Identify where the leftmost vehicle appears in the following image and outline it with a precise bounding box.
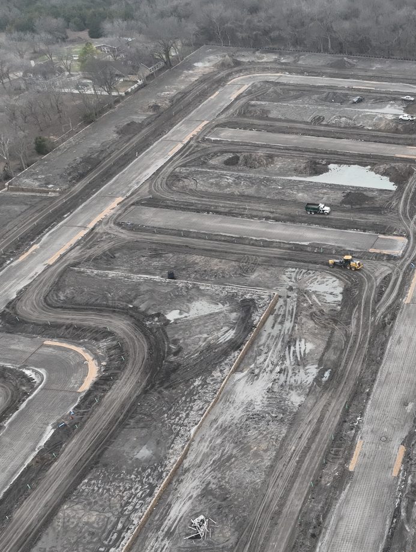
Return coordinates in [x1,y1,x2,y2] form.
[303,204,334,216]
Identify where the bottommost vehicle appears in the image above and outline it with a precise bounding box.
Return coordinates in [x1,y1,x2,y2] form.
[326,256,364,272]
